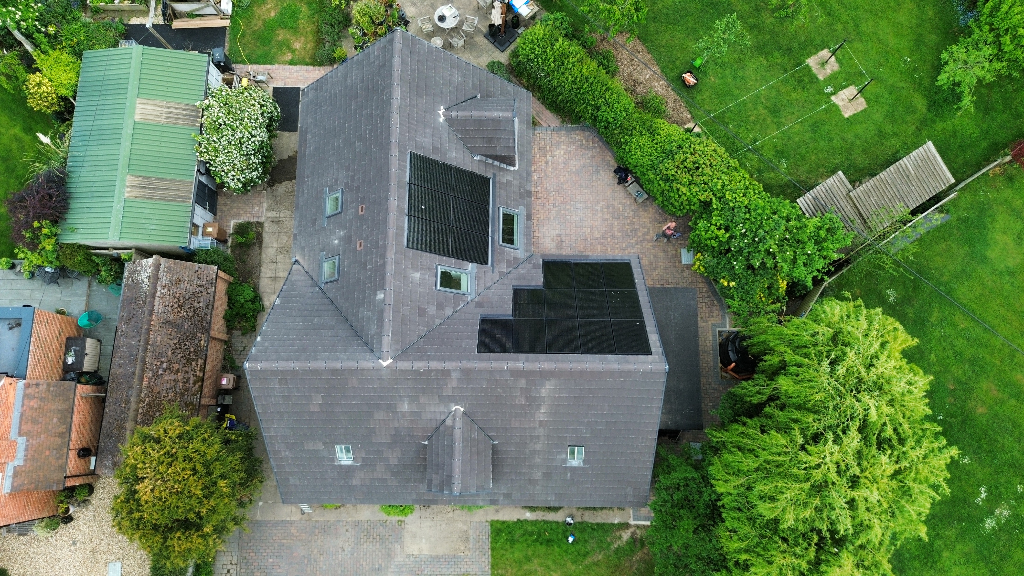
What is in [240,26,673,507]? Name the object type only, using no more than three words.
house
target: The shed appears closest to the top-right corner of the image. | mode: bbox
[848,141,955,235]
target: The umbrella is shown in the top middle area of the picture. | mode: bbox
[486,0,519,53]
